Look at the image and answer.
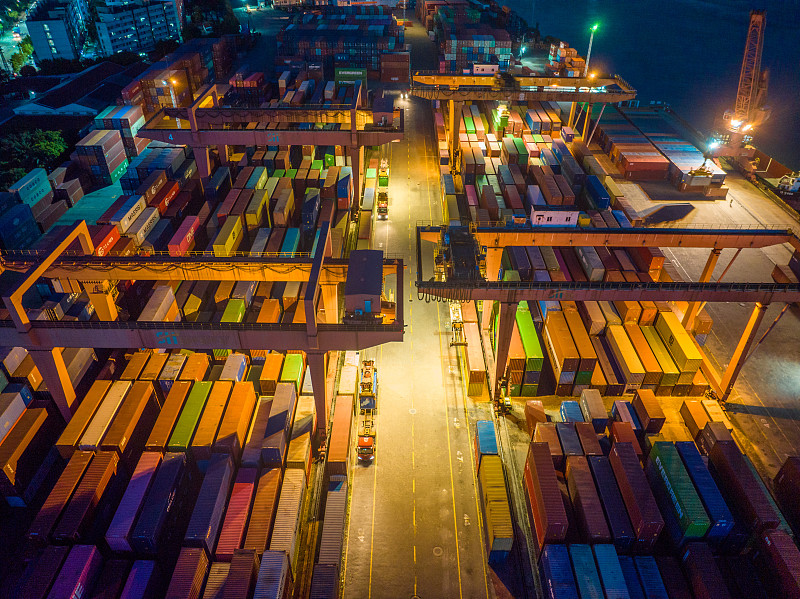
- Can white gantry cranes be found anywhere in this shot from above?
No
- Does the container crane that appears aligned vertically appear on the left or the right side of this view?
right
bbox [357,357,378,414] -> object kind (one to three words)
truck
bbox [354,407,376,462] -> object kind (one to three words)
truck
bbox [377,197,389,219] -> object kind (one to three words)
vehicle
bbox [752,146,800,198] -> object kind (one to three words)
ship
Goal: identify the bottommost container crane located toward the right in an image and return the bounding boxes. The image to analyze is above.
[418,204,800,408]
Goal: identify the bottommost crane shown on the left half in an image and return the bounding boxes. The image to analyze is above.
[0,223,402,457]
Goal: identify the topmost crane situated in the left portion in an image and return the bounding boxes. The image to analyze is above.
[130,80,402,220]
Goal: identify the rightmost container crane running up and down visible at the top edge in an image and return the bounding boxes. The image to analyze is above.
[692,6,767,182]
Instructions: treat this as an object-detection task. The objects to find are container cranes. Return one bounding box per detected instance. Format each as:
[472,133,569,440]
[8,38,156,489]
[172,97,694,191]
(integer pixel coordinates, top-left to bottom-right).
[418,204,800,408]
[130,80,402,220]
[412,59,640,174]
[692,6,767,182]
[0,223,402,457]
